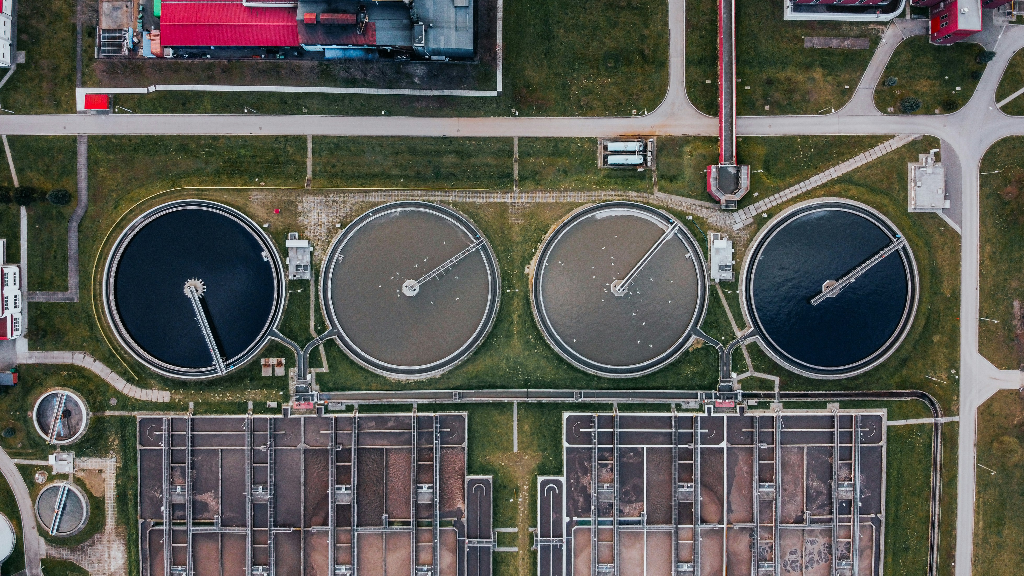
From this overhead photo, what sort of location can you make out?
industrial area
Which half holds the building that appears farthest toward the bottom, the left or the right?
left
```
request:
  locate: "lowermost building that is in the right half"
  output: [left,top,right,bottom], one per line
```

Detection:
[708,233,735,282]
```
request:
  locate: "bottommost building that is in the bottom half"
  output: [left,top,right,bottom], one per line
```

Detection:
[49,450,79,474]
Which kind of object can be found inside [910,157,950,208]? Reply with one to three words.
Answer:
building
